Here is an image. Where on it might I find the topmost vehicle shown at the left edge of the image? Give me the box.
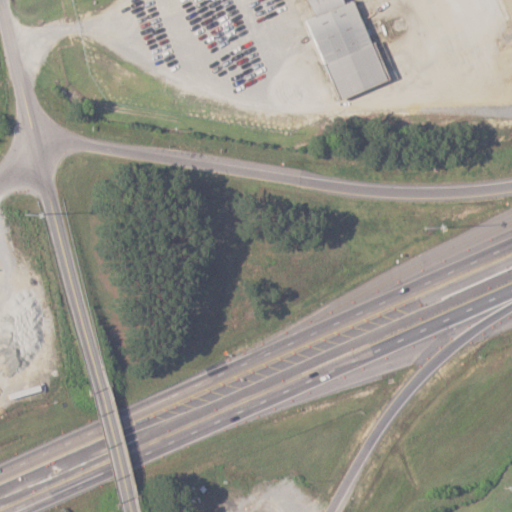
[6,384,46,400]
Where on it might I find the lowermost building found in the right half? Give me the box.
[325,46,390,100]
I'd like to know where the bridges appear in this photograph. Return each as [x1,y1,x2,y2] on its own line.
[92,388,140,512]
